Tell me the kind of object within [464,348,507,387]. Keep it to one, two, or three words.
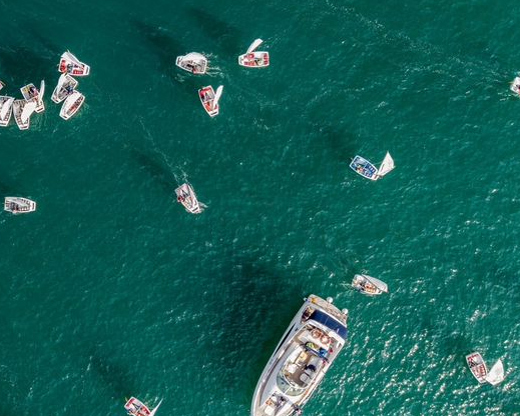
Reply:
boat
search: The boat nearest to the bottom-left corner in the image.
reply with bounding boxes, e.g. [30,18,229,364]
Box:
[124,394,164,416]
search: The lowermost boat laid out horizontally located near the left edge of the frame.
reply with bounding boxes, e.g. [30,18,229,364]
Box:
[2,194,37,213]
